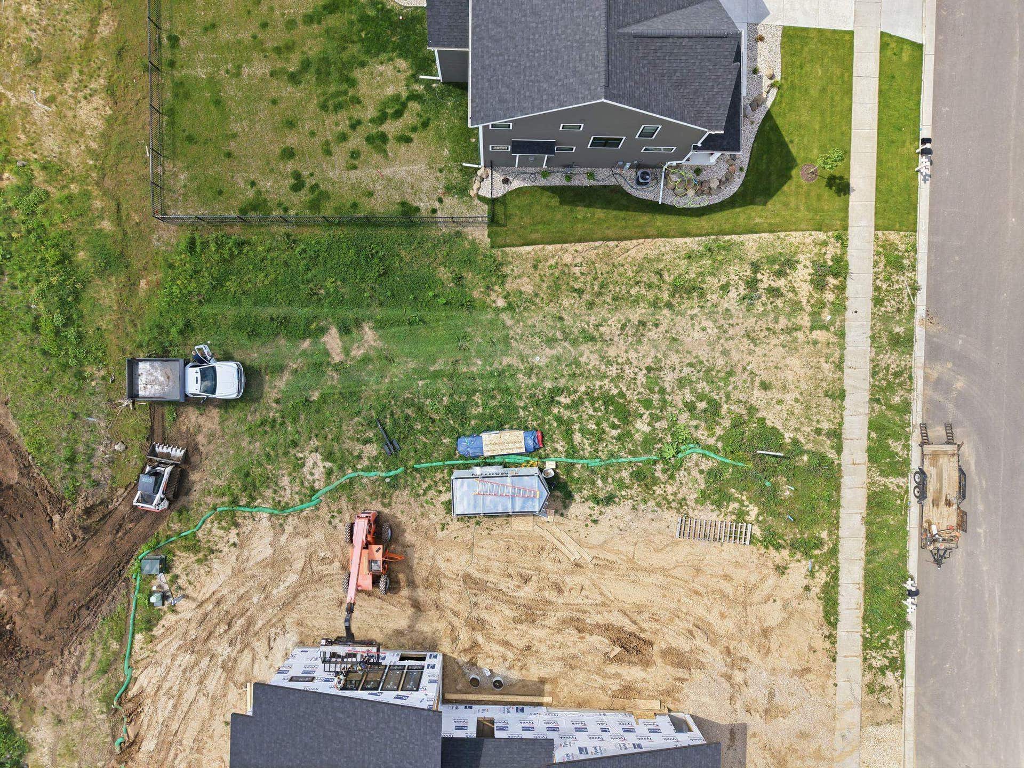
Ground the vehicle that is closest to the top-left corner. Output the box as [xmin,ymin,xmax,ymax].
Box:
[127,344,248,406]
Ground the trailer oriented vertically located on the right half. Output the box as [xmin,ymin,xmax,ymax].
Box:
[912,423,967,568]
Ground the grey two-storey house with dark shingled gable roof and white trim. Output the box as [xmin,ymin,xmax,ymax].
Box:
[421,0,745,203]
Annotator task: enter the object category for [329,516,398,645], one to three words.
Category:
work vehicle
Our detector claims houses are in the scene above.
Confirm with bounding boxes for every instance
[227,646,717,768]
[421,0,745,203]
